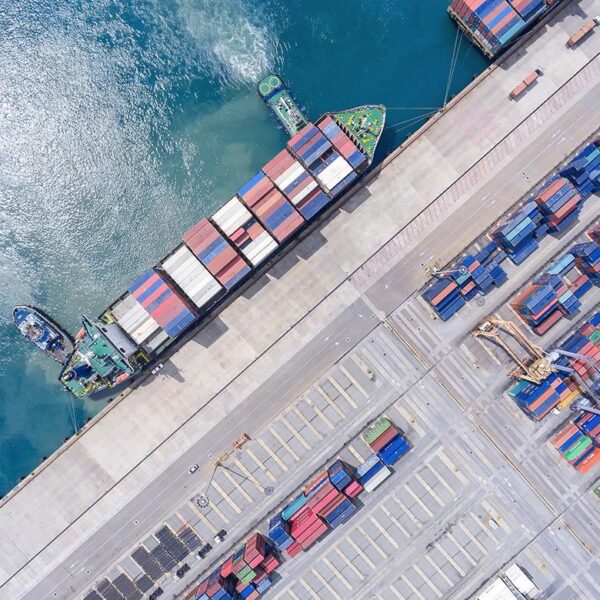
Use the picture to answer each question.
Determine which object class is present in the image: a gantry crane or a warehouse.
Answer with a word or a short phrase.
gantry crane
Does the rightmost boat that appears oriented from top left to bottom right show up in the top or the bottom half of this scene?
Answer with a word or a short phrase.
top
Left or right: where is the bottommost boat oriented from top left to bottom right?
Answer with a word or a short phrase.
left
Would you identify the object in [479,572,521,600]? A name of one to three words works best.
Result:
shed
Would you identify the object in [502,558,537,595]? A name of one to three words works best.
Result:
shed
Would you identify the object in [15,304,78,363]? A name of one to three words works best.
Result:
boat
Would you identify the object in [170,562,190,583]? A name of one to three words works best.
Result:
vehicle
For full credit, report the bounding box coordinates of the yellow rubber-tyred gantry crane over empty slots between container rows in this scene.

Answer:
[471,316,560,387]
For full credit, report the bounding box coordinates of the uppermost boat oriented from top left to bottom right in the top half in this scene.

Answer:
[255,79,309,142]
